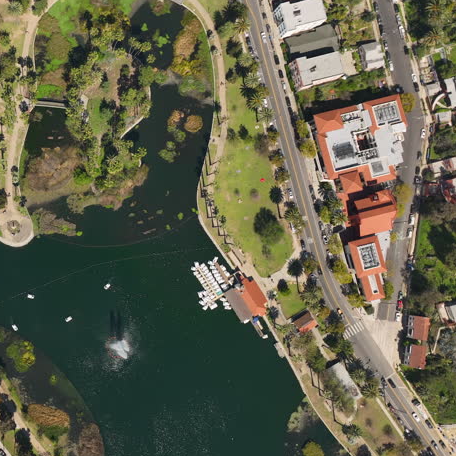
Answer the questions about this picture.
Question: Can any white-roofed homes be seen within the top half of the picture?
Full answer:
Yes, there is a white-roofed home within the top half of the picture.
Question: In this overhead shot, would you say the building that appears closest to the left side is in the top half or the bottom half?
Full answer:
You can find the building that appears closest to the left side in the bottom half.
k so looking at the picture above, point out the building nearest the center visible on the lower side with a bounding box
[221,277,268,323]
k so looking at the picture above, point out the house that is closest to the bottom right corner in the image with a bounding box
[400,344,428,370]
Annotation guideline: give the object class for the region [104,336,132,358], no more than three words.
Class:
fountain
